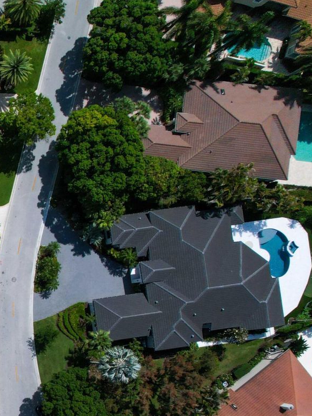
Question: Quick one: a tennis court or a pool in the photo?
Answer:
pool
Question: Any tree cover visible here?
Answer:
Yes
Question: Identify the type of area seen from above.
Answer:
residential area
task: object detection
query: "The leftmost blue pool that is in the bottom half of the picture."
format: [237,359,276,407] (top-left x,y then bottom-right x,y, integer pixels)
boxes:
[257,227,290,278]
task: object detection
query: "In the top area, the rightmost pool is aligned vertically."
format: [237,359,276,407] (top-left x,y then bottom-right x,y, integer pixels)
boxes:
[293,106,312,163]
